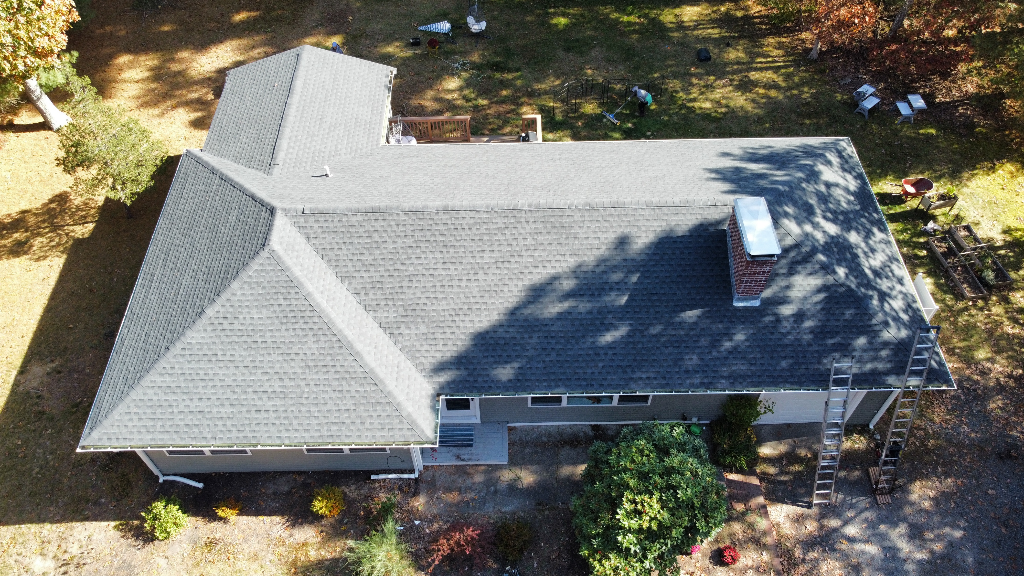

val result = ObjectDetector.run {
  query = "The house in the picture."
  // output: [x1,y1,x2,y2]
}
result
[79,44,953,488]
